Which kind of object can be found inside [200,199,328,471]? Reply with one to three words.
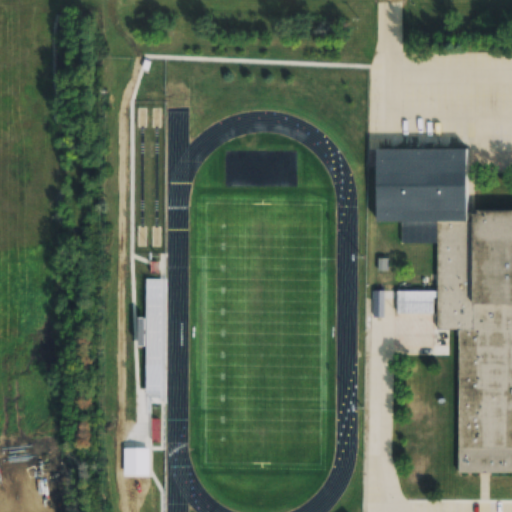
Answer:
sports field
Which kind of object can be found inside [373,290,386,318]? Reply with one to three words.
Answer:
shed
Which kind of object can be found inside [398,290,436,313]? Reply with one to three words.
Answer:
shed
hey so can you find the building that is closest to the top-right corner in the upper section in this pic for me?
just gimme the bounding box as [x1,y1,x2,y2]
[375,149,470,244]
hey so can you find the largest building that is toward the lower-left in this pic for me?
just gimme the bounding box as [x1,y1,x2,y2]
[124,448,150,476]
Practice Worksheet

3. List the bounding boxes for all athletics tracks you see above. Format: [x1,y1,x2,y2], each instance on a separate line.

[168,110,358,512]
